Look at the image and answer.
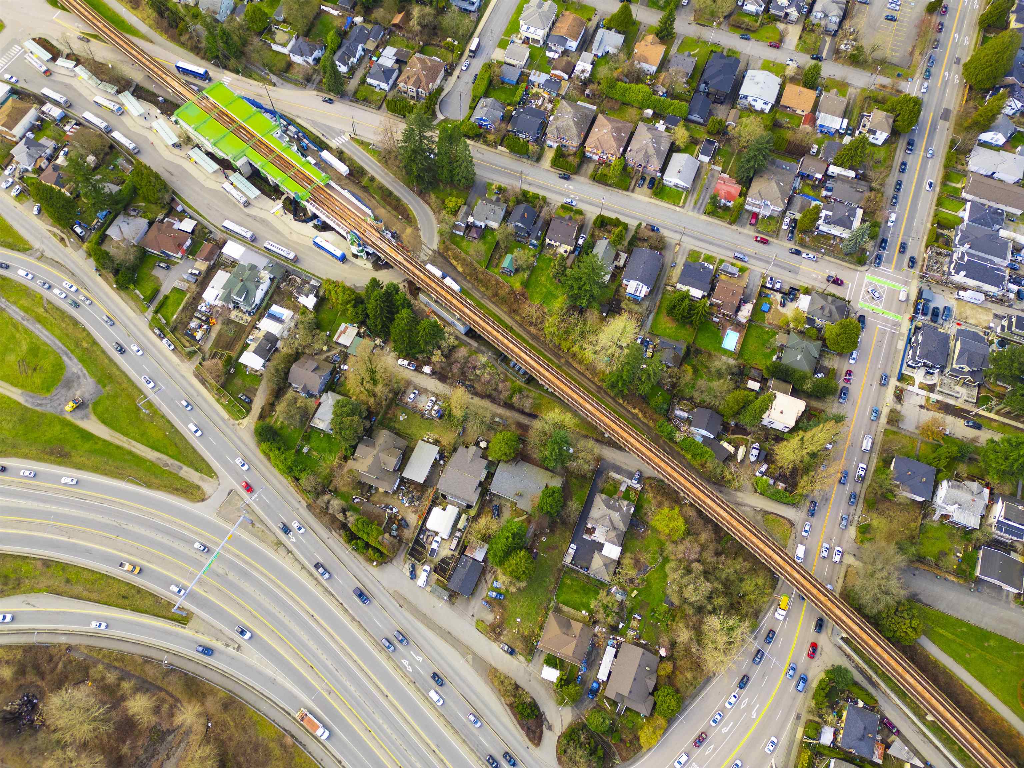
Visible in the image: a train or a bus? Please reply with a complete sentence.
Looking from above, you can make out a bus.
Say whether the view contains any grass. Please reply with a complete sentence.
Yes, grass shows up in the scene.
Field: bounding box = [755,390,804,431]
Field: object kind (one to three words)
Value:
house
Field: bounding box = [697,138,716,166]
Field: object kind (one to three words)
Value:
building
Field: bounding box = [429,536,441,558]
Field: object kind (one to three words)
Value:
vehicle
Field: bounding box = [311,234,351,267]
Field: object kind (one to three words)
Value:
bus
